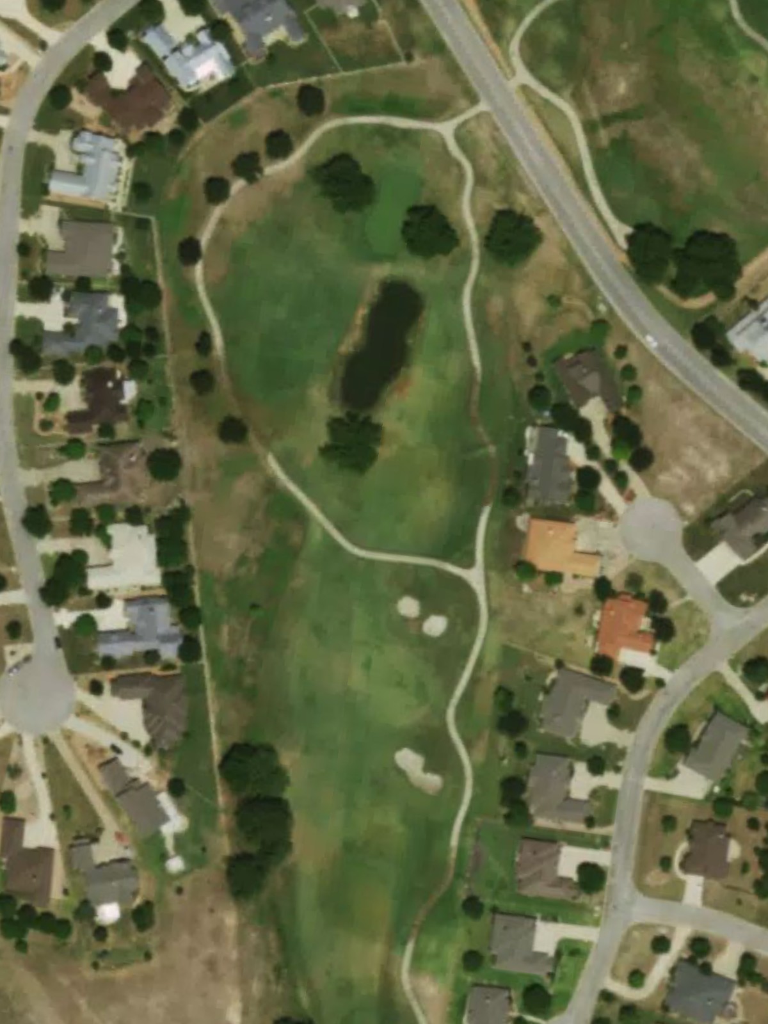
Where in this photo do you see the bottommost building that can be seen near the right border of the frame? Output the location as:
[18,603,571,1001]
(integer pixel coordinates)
[665,958,739,1024]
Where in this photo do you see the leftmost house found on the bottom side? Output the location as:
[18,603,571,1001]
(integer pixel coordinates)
[1,816,54,906]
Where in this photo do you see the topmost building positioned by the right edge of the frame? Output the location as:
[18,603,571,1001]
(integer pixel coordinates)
[725,296,768,362]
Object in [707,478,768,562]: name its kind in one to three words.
house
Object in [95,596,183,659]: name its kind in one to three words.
house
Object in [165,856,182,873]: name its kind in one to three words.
gazebo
